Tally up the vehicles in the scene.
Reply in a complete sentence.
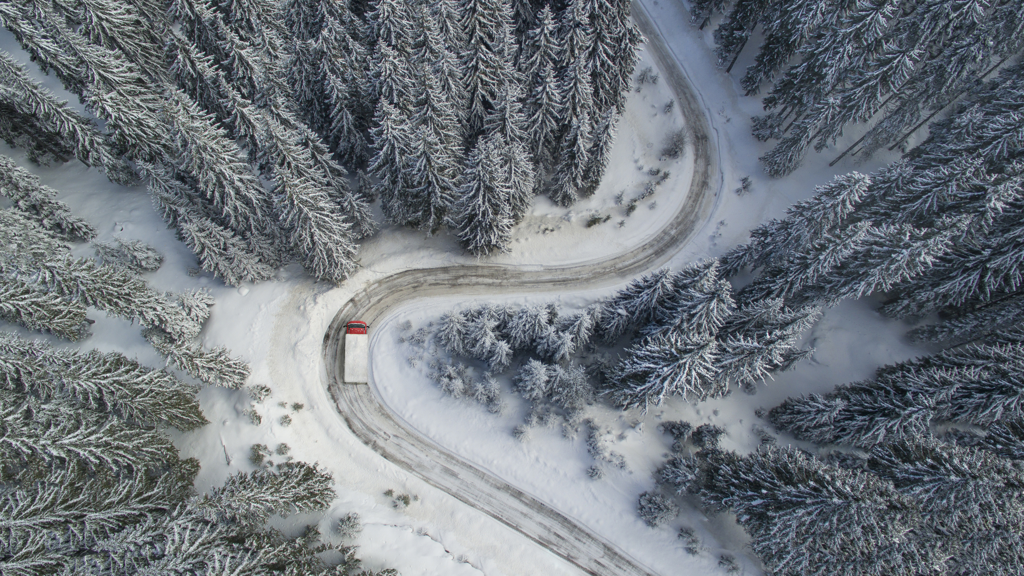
The count comes to 1 vehicle.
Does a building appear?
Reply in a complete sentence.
No, I can't see a single building in this photo.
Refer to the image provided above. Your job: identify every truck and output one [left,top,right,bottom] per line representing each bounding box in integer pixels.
[346,321,373,388]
